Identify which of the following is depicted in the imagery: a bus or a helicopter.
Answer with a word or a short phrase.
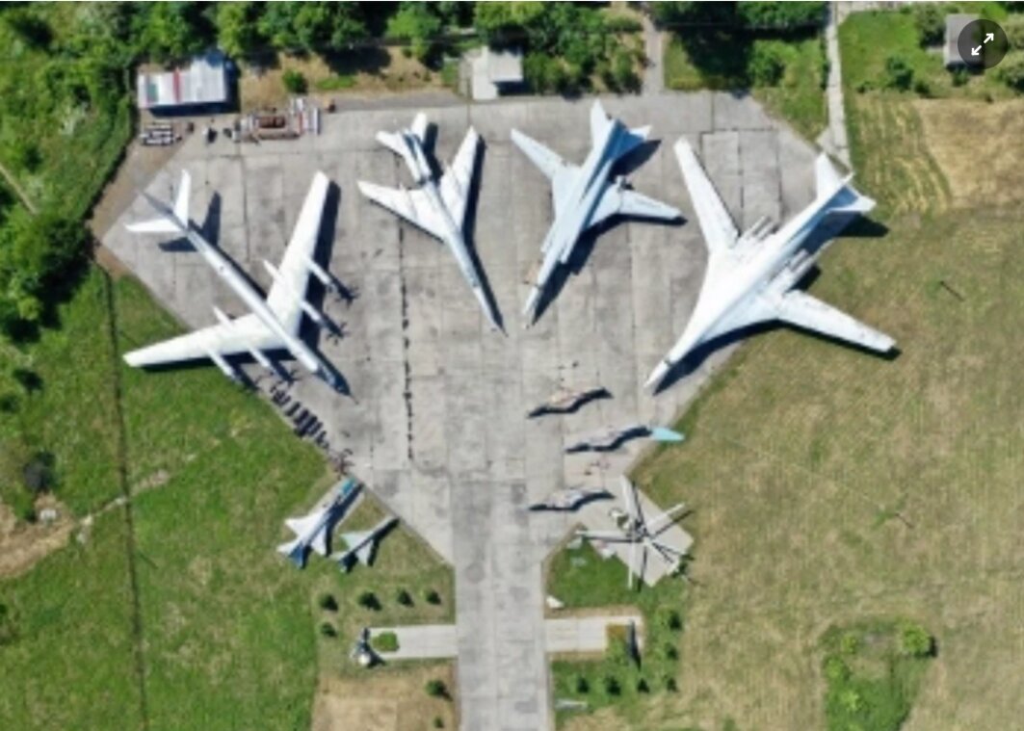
helicopter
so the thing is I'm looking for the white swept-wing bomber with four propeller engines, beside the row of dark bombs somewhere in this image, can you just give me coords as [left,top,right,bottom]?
[125,170,347,390]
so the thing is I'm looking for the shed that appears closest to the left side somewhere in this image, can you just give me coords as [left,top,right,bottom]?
[138,58,229,111]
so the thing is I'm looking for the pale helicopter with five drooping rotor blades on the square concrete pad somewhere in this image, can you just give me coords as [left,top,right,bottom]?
[575,473,689,590]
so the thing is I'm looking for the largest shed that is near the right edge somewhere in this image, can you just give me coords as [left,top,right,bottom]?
[940,14,984,66]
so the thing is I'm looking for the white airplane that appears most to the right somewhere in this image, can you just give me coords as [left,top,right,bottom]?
[644,134,895,386]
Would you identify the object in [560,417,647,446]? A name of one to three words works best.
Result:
airplane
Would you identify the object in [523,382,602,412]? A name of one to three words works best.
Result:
airplane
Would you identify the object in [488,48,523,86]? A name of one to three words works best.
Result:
shed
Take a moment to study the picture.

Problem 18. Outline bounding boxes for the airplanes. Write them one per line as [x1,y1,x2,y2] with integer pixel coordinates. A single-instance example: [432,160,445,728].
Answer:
[523,382,602,412]
[125,170,347,390]
[329,514,397,572]
[644,134,895,386]
[276,475,355,569]
[509,101,681,319]
[560,417,647,446]
[358,110,501,338]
